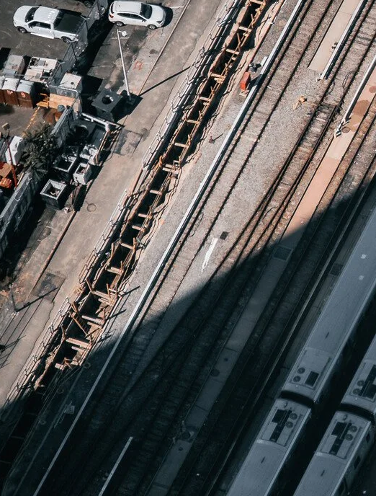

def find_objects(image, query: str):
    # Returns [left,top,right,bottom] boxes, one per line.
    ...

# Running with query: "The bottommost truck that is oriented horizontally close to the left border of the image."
[11,8,88,47]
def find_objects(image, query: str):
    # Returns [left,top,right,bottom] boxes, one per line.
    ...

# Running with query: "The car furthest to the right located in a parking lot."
[106,0,169,35]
